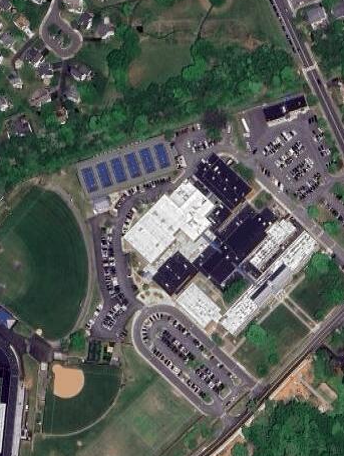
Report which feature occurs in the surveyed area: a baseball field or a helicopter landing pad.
baseball field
